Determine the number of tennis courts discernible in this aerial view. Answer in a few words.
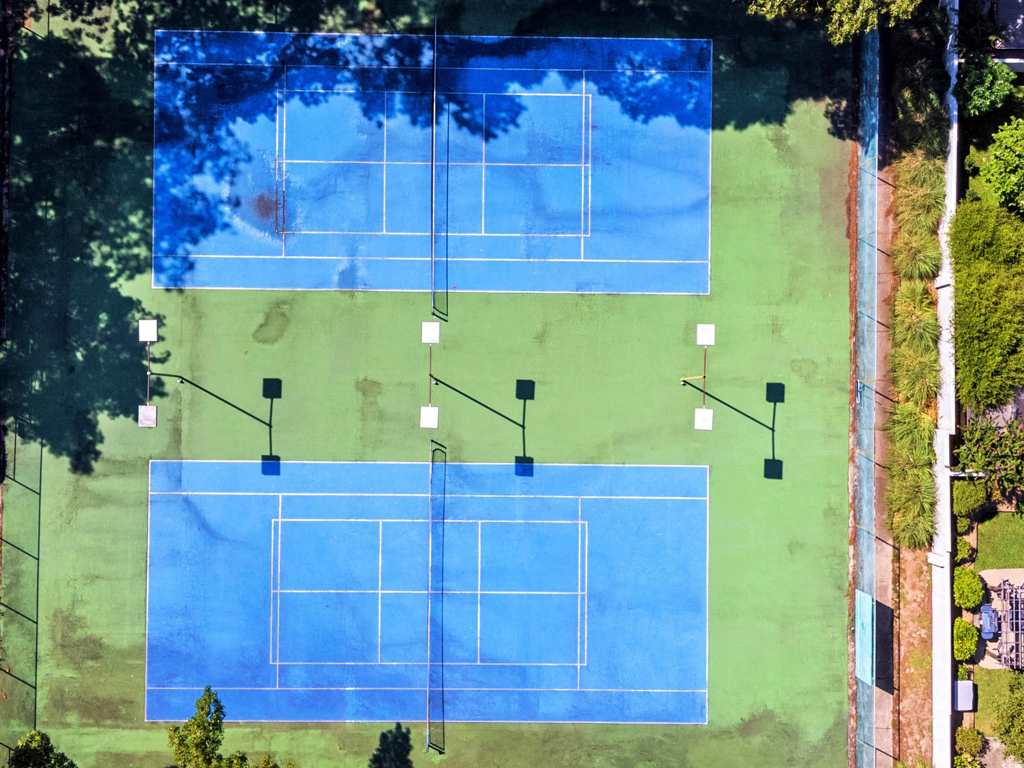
2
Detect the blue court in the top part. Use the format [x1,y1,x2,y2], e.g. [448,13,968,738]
[151,30,712,294]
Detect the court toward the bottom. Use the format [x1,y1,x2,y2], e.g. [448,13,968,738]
[146,461,709,724]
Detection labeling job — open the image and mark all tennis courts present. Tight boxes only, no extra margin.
[146,461,709,724]
[151,30,712,294]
